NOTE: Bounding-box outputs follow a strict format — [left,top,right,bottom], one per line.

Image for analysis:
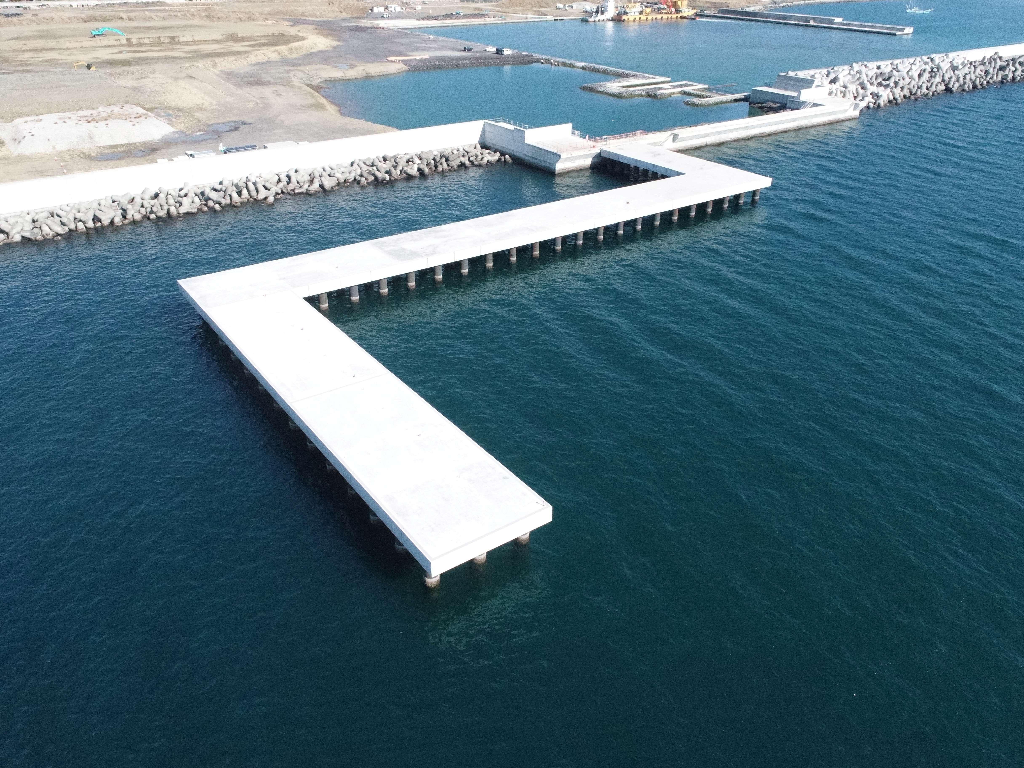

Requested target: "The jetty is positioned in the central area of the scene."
[178,143,772,587]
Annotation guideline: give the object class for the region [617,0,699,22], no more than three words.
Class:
ship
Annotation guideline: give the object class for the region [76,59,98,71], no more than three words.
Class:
vehicle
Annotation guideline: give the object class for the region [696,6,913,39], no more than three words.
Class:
pier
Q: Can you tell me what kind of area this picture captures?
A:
port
